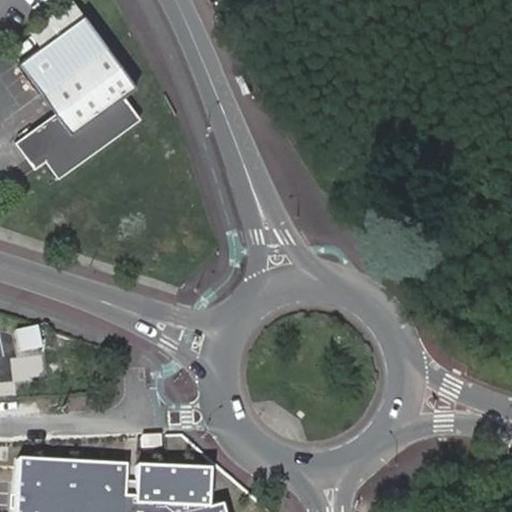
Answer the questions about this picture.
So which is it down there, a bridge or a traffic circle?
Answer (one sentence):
This aerial view contains a traffic circle.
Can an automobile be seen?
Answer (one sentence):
Yes, this view includes an automobile.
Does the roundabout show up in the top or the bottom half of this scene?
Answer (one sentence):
The bottom half of the photo is where the roundabout is.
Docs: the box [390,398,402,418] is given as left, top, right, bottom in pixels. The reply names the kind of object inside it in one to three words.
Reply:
vehicle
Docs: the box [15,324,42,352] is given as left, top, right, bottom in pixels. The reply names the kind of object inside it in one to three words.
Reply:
shed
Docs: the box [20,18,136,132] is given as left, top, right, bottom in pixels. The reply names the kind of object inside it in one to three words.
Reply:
building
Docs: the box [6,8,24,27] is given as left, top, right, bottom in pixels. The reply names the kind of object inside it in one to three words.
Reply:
car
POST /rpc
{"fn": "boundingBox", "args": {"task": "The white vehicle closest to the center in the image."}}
[134,320,158,338]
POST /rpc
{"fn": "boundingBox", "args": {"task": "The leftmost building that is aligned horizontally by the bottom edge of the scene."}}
[9,456,130,512]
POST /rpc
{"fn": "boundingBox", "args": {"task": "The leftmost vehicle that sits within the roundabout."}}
[232,398,245,418]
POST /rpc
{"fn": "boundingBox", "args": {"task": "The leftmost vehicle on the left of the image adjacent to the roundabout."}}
[191,361,206,380]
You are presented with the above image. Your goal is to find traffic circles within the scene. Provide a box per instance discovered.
[206,266,424,484]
